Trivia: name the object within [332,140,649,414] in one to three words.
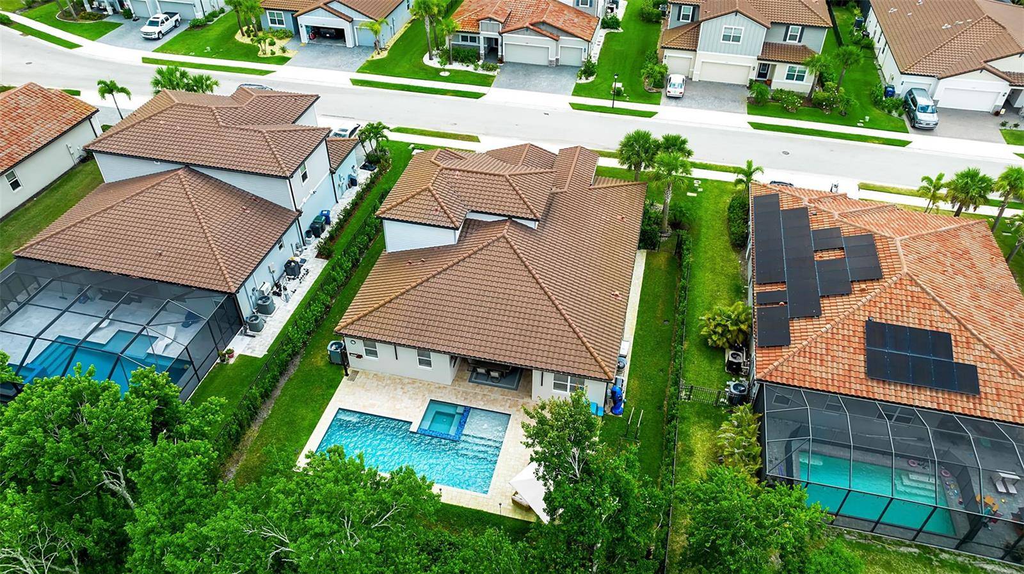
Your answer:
house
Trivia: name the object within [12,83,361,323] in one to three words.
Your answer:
house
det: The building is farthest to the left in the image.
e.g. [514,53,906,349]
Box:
[0,78,108,220]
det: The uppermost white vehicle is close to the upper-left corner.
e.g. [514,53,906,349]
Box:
[135,10,182,39]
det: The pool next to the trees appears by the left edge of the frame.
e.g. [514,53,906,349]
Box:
[0,313,188,425]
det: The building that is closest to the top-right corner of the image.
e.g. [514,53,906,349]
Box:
[866,0,1024,112]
